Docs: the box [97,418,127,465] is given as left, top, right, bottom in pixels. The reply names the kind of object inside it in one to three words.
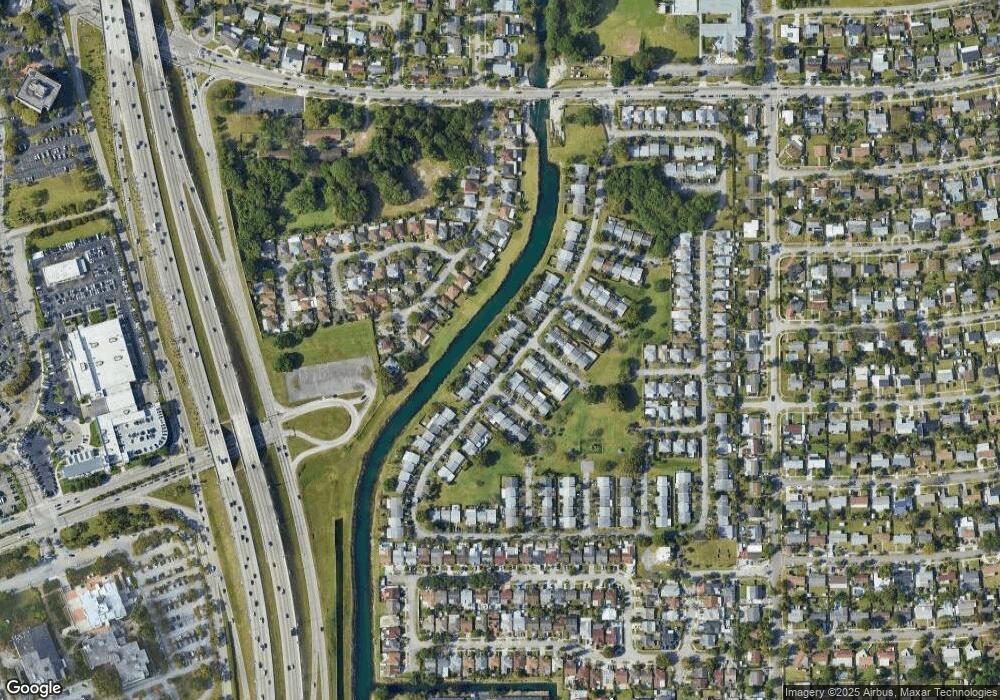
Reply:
building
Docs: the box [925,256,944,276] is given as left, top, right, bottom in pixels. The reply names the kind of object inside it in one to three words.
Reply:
house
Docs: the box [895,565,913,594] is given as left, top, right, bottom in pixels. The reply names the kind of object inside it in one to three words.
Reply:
house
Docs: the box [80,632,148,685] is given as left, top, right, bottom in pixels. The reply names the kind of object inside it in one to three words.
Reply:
building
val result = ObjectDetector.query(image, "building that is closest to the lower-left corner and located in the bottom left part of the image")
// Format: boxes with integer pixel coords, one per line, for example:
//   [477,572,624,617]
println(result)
[11,624,66,691]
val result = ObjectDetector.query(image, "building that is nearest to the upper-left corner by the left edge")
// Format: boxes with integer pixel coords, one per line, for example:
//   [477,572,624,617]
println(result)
[11,68,61,113]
